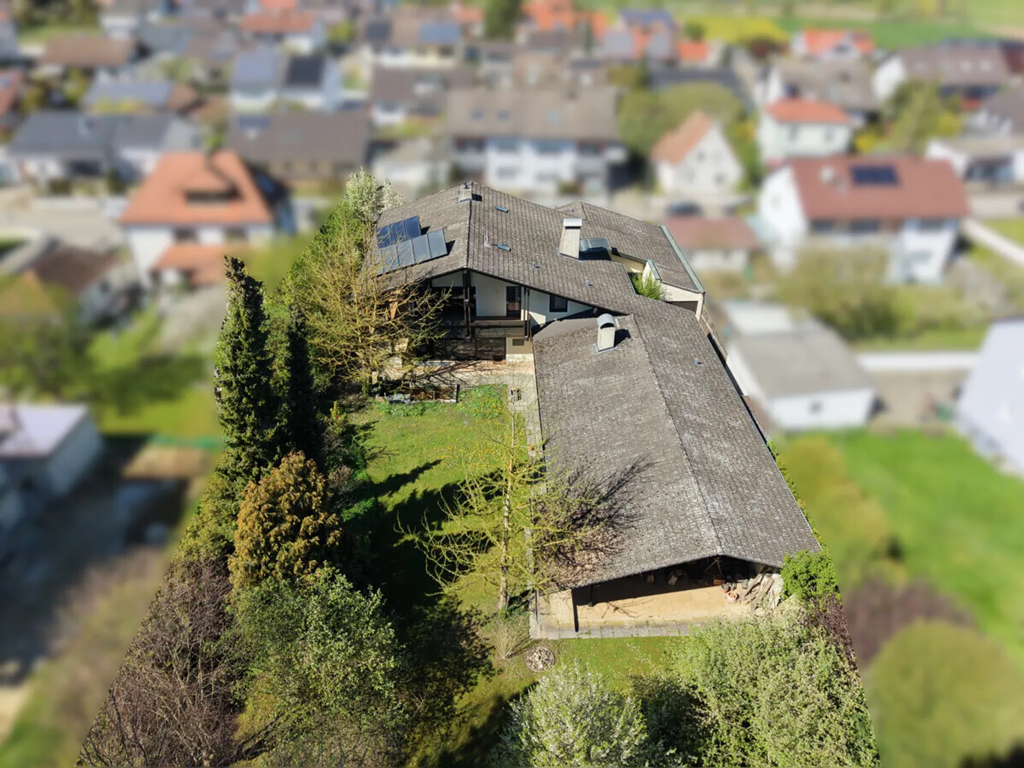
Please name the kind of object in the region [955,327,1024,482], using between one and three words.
house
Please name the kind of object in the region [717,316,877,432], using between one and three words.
building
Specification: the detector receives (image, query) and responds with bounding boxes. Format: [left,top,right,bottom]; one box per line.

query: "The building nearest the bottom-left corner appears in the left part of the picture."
[0,399,104,511]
